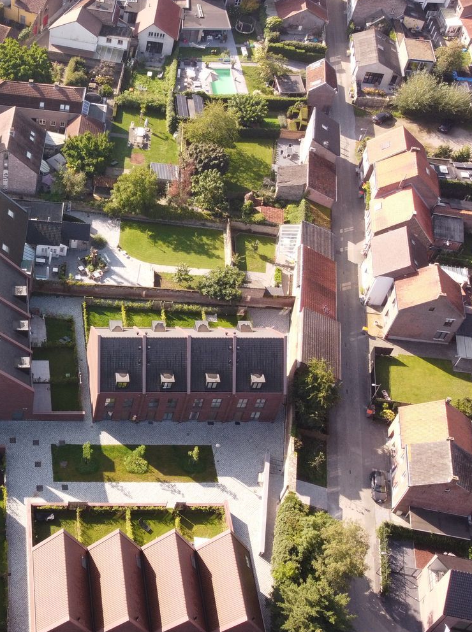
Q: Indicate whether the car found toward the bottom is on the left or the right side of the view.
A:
right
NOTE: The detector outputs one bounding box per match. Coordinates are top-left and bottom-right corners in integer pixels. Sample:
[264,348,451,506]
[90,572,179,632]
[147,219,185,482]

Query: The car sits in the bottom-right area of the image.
[368,468,390,505]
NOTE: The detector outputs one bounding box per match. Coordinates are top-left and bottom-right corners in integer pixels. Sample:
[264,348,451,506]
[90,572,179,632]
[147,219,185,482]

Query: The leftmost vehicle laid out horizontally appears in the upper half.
[368,111,396,127]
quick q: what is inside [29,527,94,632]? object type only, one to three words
house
